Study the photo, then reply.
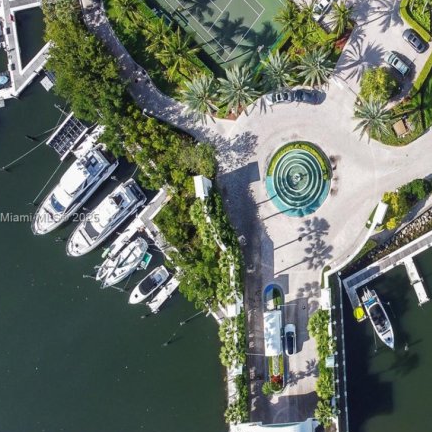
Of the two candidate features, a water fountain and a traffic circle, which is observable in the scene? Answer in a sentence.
Of the two, only a water fountain appears.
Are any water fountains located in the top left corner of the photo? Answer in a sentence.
No, there's no water fountain to be seen in the top left corner of the photo.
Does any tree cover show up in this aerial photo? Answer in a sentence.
Yes, there's tree cover in this view.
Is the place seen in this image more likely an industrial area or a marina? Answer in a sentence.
What you see here is a marina.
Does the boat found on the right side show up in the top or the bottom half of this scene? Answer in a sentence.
It is in the bottom half that the boat found on the right side appears.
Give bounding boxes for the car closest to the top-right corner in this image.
[402,28,428,56]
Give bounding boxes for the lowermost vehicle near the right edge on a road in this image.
[382,53,413,79]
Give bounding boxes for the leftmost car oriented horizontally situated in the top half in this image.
[266,90,295,105]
